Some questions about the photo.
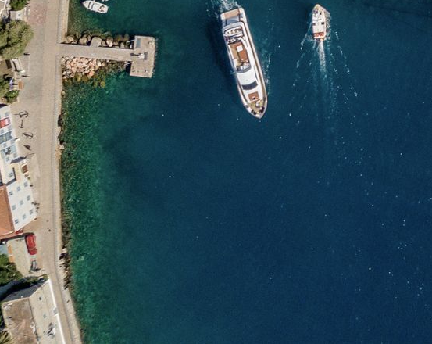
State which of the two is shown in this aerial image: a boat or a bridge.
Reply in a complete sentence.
Of the two, only a boat appears.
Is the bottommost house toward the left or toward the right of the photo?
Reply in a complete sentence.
The bottommost house sits on the left side.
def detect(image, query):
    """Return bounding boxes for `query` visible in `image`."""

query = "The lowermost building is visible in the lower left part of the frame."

[2,270,80,344]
